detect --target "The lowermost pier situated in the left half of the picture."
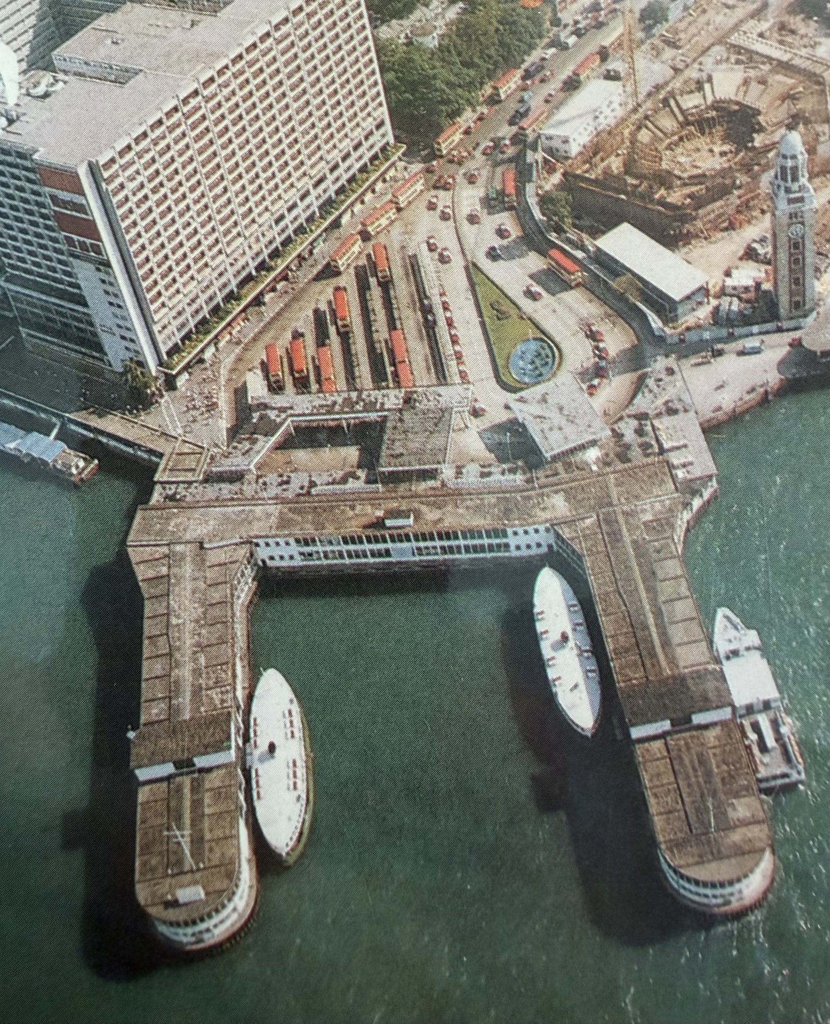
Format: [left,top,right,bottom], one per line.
[126,538,269,961]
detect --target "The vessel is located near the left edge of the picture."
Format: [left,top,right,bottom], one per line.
[0,421,104,484]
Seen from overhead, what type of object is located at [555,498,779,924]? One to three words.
pier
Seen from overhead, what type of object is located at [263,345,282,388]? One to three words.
vehicle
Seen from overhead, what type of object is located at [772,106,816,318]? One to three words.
building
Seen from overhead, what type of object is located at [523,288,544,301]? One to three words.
vehicle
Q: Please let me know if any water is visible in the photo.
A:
Yes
